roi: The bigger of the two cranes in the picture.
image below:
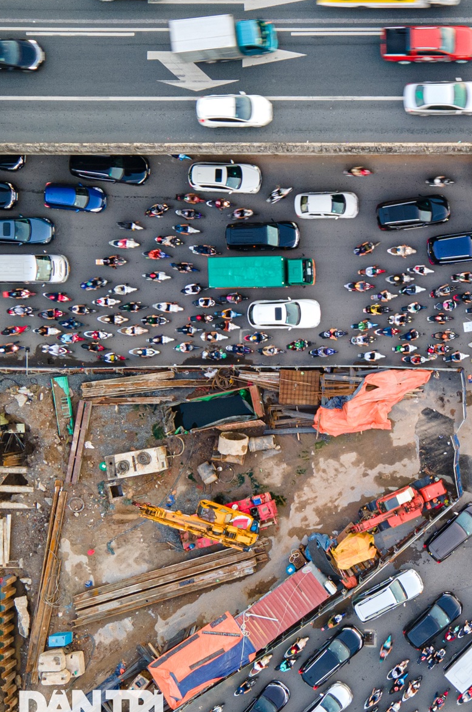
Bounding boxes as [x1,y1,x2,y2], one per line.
[140,481,290,554]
